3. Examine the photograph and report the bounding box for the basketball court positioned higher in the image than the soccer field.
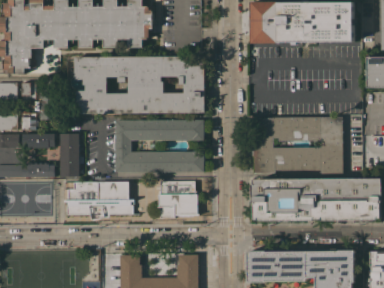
[0,182,54,216]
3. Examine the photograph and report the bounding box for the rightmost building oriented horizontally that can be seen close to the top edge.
[250,3,355,44]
